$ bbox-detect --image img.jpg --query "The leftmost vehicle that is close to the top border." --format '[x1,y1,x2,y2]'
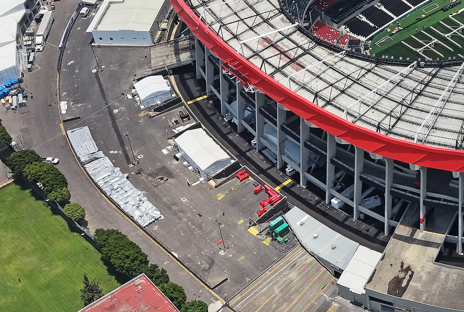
[35,7,51,45]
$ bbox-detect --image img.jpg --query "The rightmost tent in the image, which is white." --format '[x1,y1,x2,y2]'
[175,128,230,177]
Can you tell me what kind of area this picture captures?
sports ground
